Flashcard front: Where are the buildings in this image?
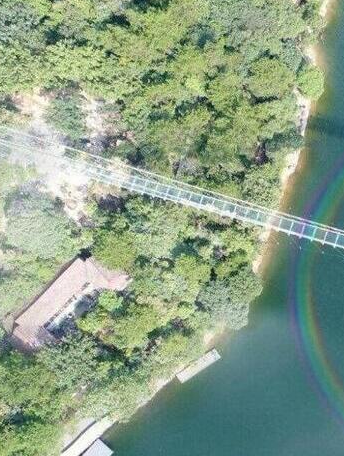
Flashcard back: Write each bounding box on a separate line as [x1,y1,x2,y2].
[12,251,132,353]
[83,438,114,456]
